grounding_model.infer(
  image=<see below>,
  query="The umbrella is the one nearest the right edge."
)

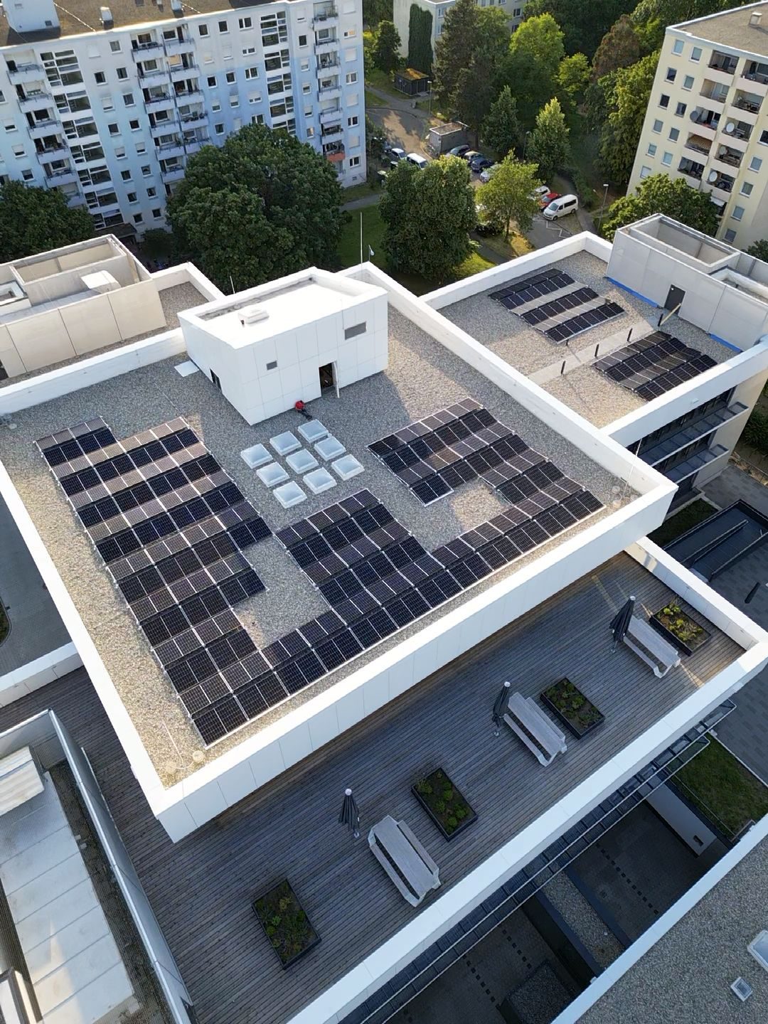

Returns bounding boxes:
[610,595,641,651]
